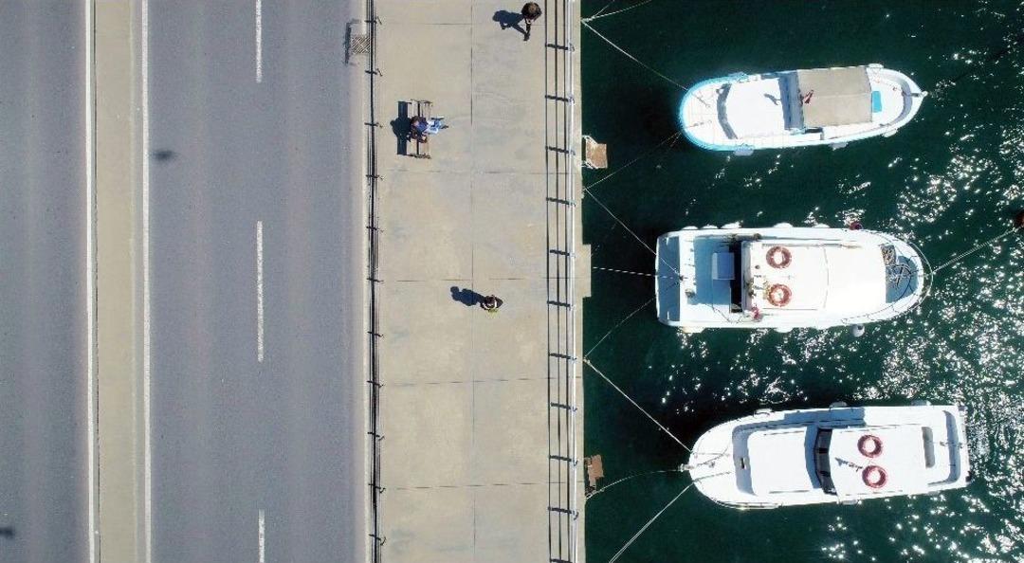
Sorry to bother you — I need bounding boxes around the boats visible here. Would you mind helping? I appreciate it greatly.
[657,228,931,327]
[679,66,928,152]
[679,404,973,508]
